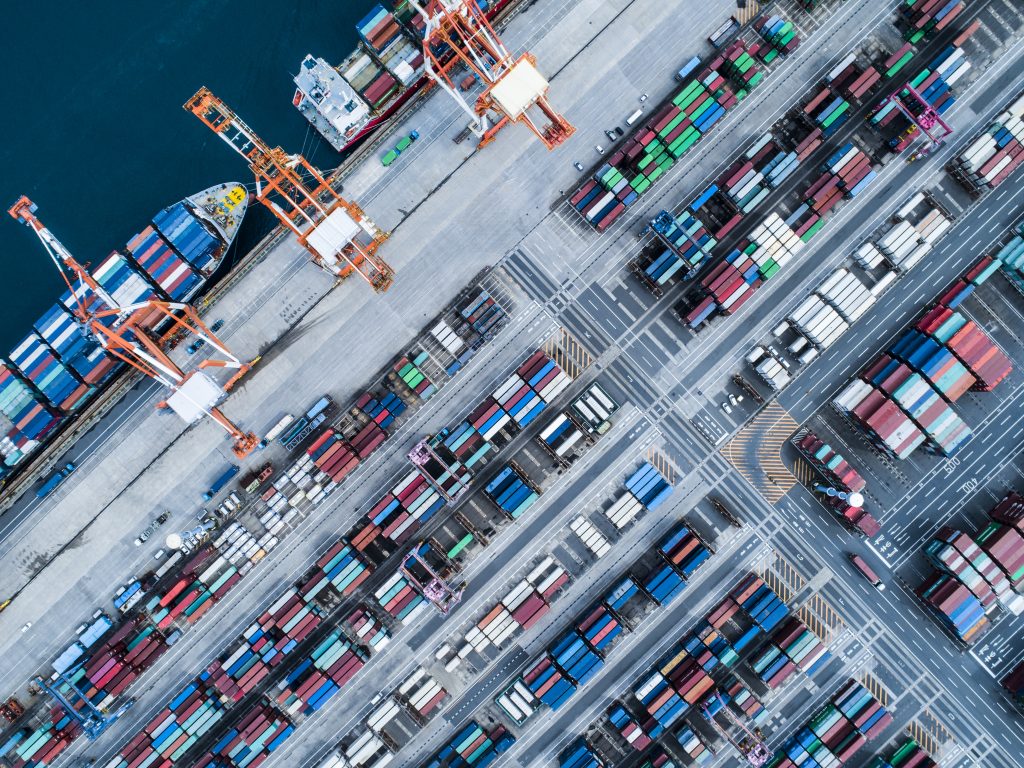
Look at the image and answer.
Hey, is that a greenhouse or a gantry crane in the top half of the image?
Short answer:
gantry crane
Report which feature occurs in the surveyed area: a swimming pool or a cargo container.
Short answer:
cargo container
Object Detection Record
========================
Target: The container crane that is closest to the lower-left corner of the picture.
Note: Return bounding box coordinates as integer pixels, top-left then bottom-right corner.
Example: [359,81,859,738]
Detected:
[35,654,130,747]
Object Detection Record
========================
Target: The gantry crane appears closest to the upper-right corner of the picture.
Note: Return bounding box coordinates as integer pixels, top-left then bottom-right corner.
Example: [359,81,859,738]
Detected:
[858,83,949,167]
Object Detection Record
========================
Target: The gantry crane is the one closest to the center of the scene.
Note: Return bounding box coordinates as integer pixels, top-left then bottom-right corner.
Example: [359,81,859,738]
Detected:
[407,431,479,505]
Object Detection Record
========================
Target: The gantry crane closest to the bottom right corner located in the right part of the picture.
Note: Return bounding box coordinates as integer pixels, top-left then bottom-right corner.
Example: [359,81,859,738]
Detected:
[699,669,771,761]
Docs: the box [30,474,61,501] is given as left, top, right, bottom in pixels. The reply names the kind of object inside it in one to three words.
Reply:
shipping container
